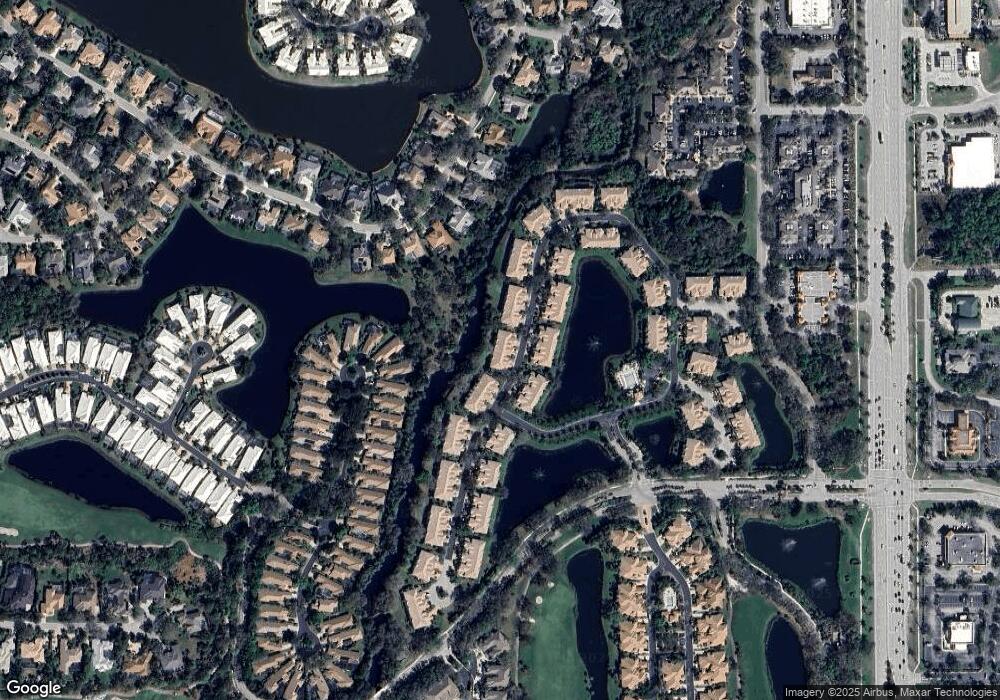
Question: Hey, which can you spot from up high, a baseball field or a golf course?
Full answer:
The one in the frame is a golf course.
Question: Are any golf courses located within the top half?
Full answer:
No, I see no golf course within the top half.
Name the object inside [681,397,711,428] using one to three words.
building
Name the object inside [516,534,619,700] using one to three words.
golf course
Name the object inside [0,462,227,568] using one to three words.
golf course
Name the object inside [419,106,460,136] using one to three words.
house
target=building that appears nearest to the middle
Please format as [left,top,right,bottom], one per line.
[488,327,521,372]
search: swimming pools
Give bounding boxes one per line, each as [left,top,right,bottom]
[663,588,677,609]
[618,366,640,390]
